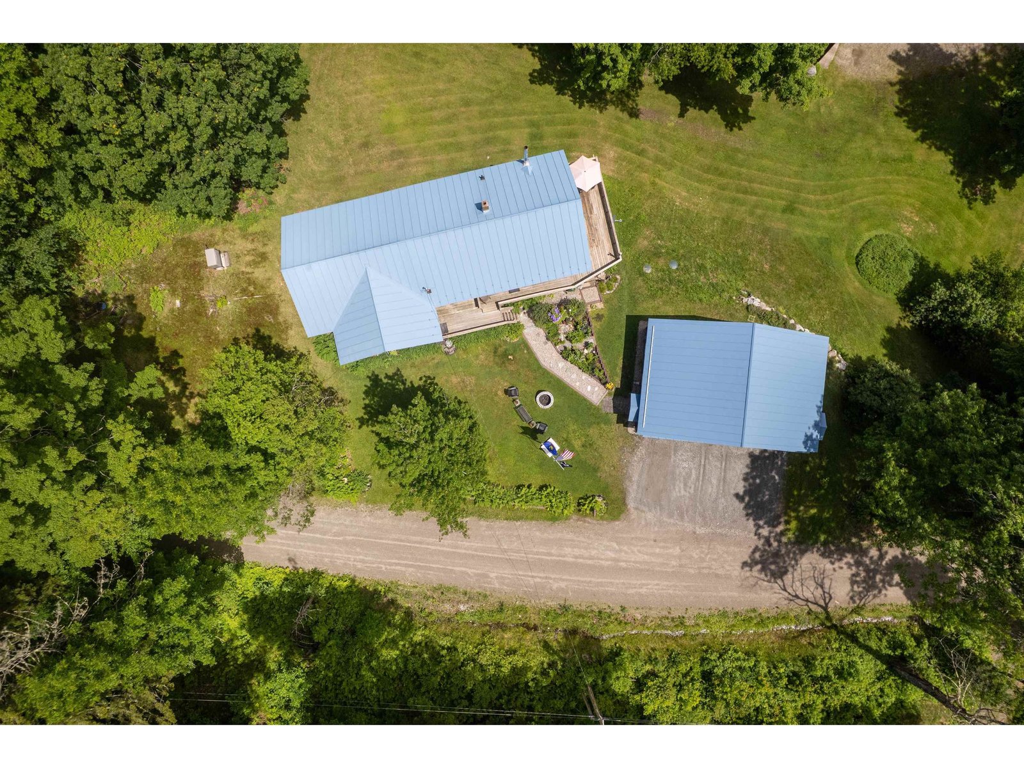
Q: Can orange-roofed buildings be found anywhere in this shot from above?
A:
No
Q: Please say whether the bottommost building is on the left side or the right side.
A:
right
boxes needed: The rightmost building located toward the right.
[628,318,829,452]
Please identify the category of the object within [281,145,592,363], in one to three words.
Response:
house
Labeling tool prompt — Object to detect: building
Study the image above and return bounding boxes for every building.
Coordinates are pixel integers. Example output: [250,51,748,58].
[281,145,592,363]
[628,318,829,452]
